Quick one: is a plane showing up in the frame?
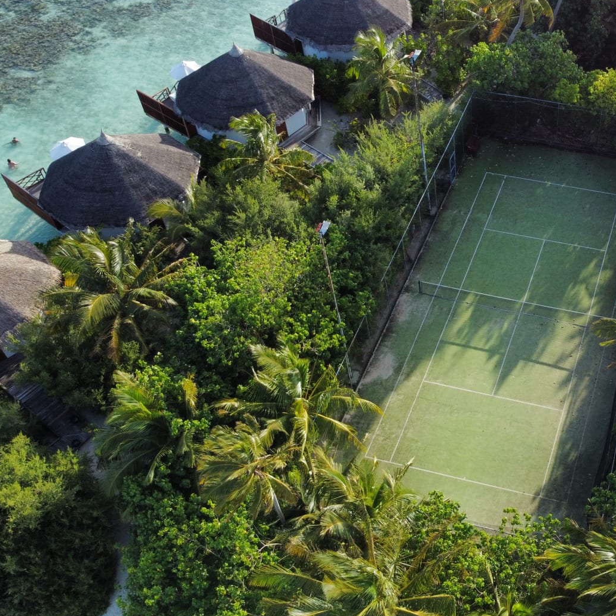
No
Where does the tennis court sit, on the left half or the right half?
right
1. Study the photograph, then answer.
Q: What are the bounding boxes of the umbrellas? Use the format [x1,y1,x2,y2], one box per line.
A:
[49,137,86,160]
[169,59,202,80]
